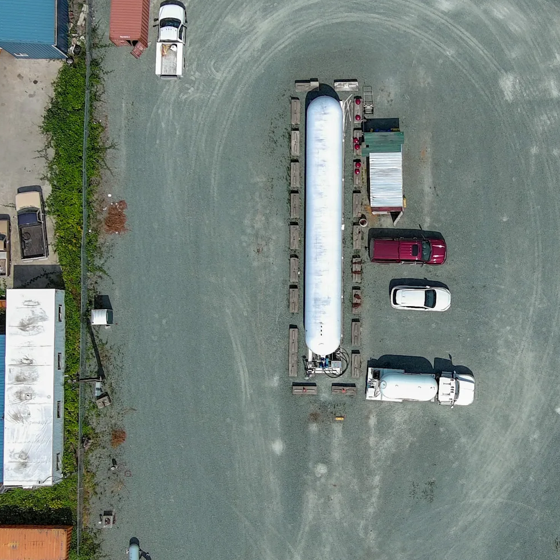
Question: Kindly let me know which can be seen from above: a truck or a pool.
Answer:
truck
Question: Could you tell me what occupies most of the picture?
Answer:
paved ground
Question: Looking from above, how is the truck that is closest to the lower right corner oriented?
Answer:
from left to right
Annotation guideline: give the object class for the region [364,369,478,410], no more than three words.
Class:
truck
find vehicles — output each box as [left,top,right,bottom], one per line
[0,215,11,278]
[364,227,446,267]
[150,4,189,83]
[364,369,478,410]
[12,187,49,262]
[391,283,452,314]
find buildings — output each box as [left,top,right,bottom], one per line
[3,288,63,489]
[0,0,69,58]
[362,131,403,217]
